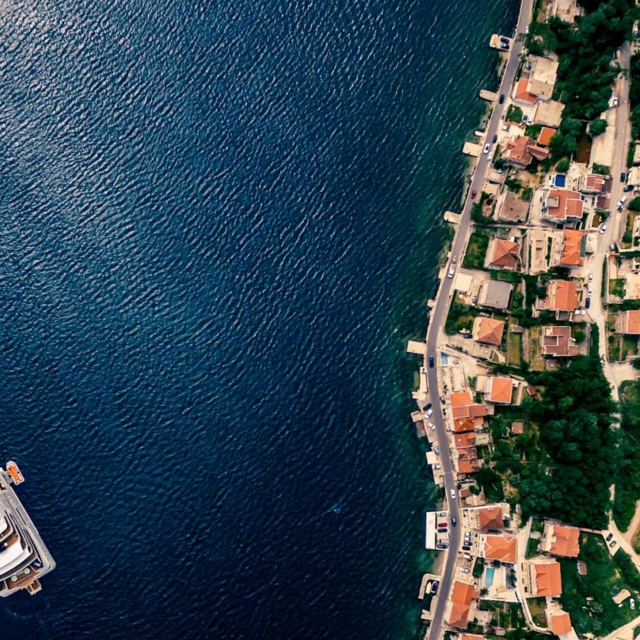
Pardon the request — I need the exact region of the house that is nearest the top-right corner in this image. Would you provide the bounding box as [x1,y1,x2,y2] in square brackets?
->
[549,0,580,26]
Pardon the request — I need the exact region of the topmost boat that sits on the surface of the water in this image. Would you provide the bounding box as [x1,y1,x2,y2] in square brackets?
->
[7,461,24,484]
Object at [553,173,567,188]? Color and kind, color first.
blue swimming pool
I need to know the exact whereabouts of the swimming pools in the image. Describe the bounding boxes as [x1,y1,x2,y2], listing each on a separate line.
[553,173,567,188]
[484,567,496,588]
[440,352,449,366]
